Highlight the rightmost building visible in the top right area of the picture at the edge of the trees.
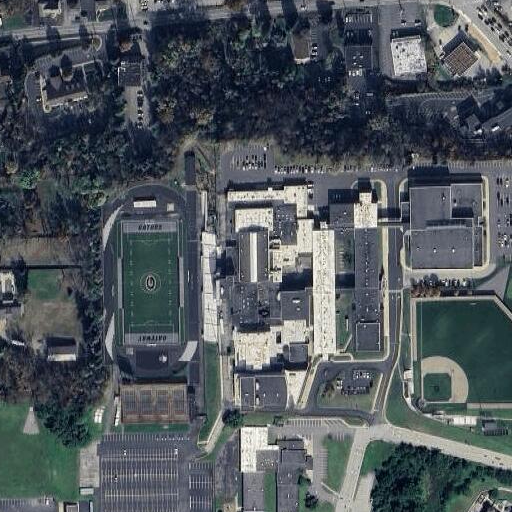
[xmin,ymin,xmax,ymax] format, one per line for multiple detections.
[466,102,512,150]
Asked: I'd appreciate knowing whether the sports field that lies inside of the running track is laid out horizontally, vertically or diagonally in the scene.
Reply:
vertically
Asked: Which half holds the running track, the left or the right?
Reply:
left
